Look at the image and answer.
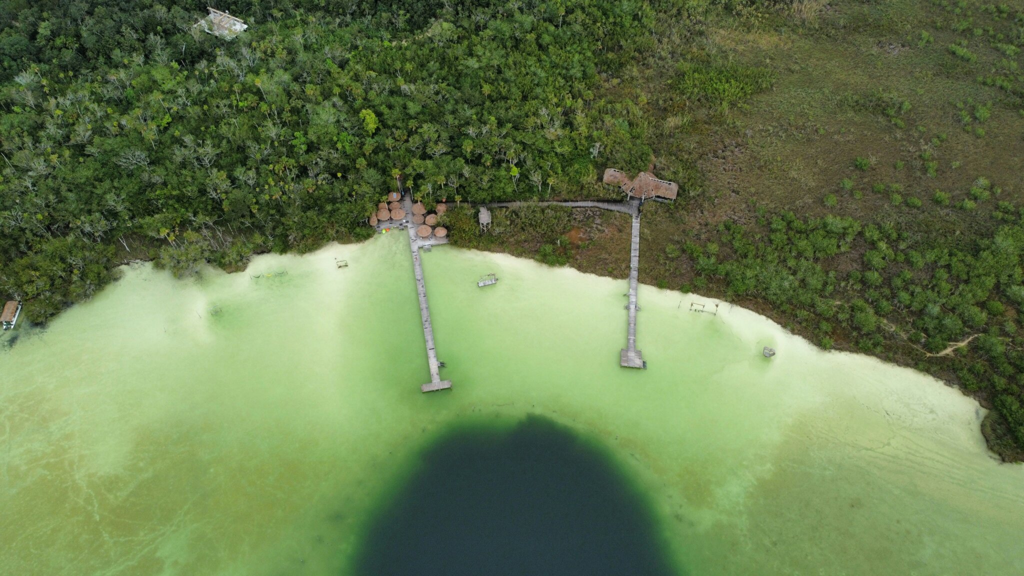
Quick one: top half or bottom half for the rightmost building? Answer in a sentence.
It is in the top half that the rightmost building appears.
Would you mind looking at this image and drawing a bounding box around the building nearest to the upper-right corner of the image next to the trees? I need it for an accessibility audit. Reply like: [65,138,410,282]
[603,168,678,212]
